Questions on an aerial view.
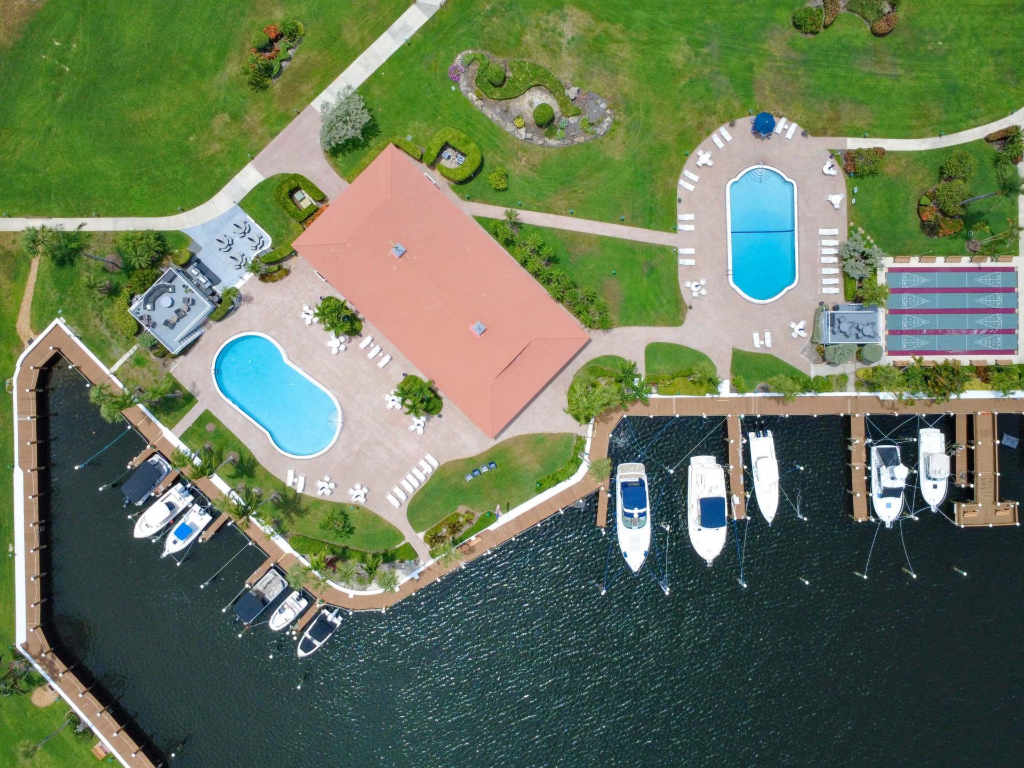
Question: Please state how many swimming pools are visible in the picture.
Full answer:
I count 2 swimming pools.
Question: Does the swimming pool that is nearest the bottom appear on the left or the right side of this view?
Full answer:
It is on the left.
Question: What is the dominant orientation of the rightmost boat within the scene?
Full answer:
The rightmost boat is laid out from top to bottom.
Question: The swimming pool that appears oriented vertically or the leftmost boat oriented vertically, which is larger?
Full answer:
The swimming pool is larger than the boat.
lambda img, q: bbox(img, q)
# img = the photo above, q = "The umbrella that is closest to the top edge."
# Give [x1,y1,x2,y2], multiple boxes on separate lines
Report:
[753,114,774,135]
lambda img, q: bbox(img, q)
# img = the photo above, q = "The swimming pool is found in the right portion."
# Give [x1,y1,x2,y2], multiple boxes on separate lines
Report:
[726,159,799,304]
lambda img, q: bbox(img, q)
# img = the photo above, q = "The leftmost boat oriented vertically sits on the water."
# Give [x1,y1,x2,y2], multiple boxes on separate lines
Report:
[616,462,650,572]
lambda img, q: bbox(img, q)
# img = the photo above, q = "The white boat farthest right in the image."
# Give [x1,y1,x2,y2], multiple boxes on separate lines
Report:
[915,426,950,512]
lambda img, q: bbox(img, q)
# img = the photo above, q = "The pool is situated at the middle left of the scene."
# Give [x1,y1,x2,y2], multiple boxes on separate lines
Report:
[209,331,344,458]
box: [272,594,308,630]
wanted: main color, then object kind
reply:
white boat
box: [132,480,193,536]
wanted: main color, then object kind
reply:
white boat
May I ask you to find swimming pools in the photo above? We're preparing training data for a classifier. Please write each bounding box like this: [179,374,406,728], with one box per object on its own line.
[209,331,344,458]
[726,159,799,304]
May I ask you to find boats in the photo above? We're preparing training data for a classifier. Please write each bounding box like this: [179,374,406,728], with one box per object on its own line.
[616,462,650,572]
[132,480,193,536]
[160,508,210,557]
[118,456,171,505]
[231,569,286,626]
[749,427,781,526]
[915,426,950,512]
[298,611,337,656]
[685,453,726,568]
[272,594,308,630]
[868,446,912,527]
